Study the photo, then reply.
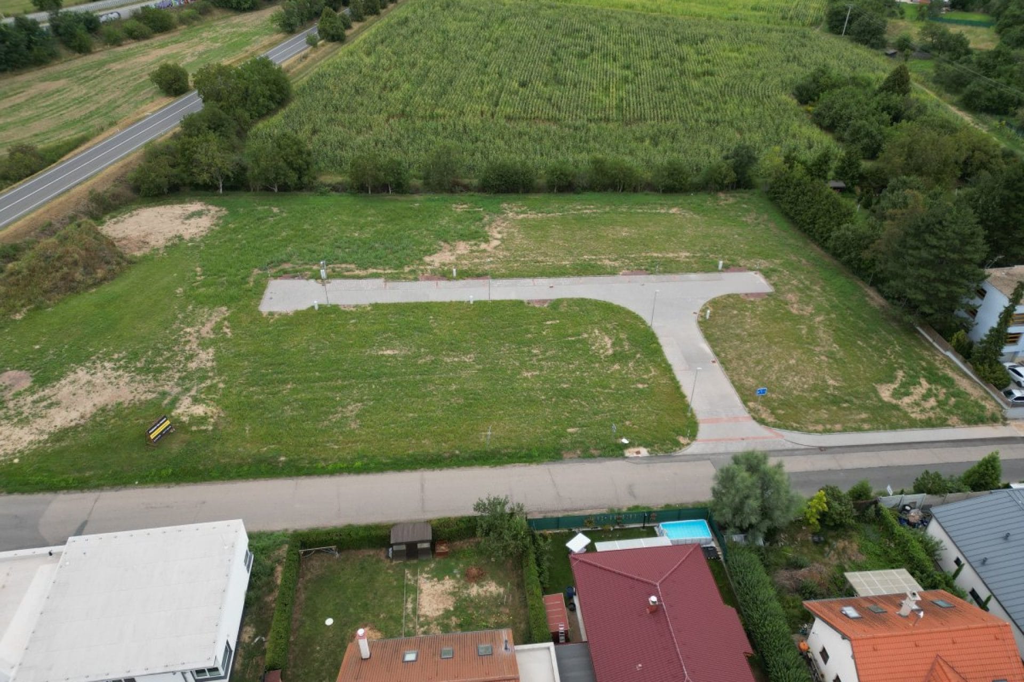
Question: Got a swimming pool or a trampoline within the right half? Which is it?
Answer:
swimming pool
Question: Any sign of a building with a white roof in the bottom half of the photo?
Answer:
Yes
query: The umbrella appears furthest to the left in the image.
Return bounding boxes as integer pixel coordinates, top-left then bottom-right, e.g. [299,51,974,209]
[564,533,592,554]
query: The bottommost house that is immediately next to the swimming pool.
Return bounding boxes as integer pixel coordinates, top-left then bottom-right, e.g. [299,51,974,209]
[569,543,751,682]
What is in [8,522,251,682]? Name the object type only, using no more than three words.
building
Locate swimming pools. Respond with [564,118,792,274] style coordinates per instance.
[657,520,711,549]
